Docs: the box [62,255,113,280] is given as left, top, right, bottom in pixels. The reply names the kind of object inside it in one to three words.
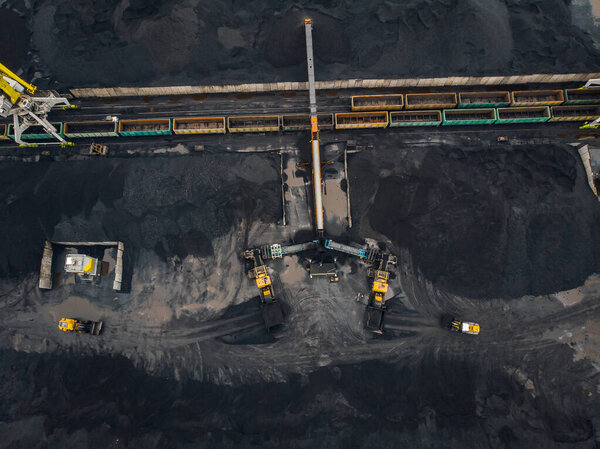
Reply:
work vehicle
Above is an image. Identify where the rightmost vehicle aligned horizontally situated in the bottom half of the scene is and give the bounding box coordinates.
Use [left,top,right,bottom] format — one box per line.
[442,315,481,335]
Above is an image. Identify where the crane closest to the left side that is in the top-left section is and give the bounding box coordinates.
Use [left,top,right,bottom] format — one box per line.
[0,60,80,145]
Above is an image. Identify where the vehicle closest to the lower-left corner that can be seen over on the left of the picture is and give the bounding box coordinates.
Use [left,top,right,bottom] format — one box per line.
[56,318,105,335]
